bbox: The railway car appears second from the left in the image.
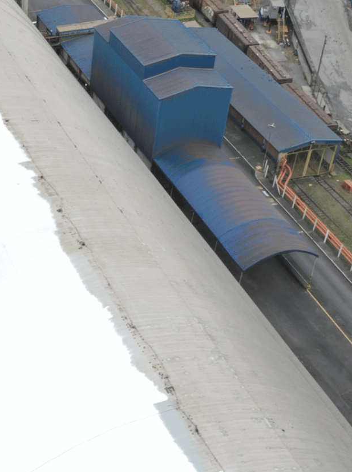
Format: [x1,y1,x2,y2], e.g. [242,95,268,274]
[215,12,261,56]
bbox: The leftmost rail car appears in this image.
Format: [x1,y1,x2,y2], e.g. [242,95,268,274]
[195,0,228,24]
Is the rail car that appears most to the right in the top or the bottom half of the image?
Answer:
top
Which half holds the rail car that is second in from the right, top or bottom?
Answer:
top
